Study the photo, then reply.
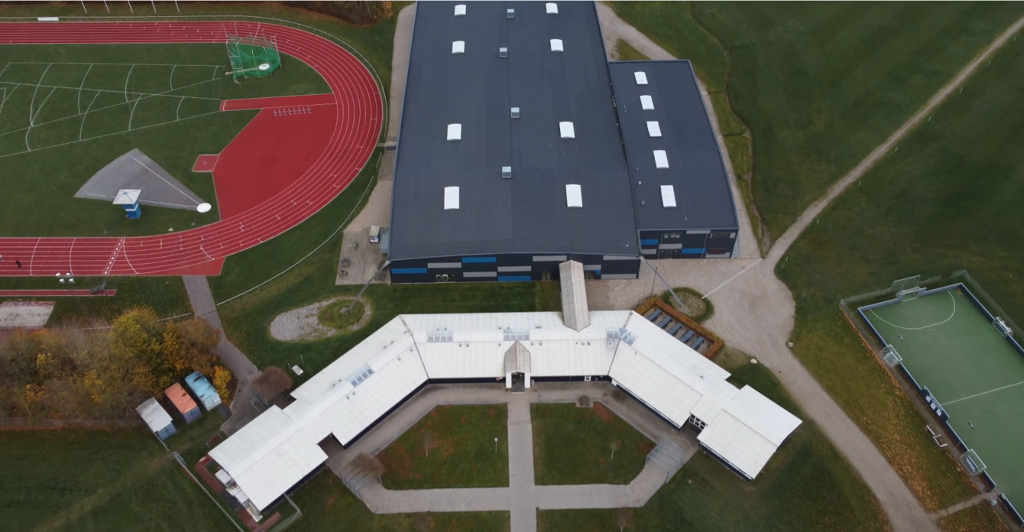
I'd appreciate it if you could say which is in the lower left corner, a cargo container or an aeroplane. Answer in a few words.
cargo container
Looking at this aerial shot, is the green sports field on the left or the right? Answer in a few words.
left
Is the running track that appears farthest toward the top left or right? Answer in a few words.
left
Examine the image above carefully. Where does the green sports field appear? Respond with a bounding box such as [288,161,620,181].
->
[0,42,335,237]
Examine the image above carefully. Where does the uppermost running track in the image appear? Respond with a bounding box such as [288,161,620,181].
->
[0,20,384,276]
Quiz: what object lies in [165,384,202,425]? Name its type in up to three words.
shipping container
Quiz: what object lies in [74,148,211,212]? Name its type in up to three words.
sports field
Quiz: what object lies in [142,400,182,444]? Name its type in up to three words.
shipping container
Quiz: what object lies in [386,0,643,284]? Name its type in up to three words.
building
